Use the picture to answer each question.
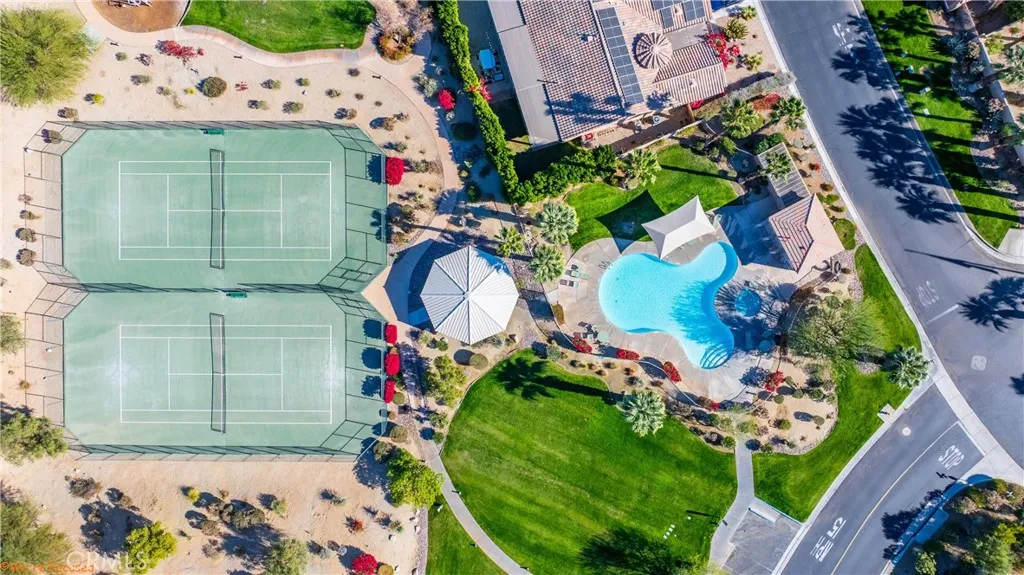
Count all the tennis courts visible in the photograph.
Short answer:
2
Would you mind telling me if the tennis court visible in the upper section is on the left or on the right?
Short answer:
left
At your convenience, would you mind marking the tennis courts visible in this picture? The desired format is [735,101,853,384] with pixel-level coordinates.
[64,291,385,454]
[62,128,385,291]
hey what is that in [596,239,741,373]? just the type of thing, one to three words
swimming pool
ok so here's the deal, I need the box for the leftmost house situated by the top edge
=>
[487,0,730,149]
